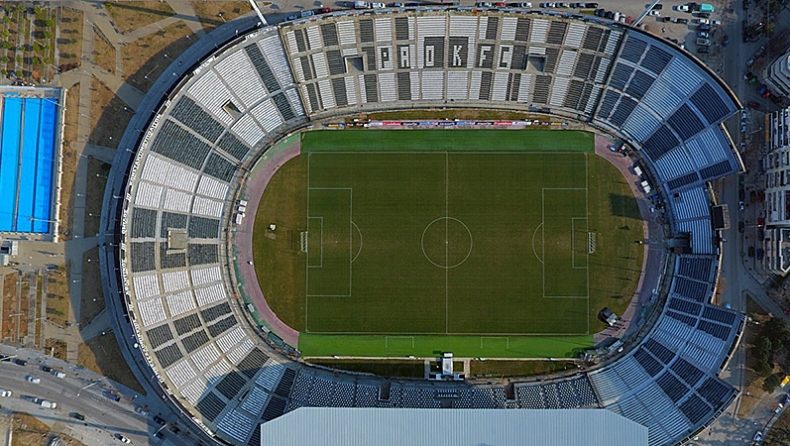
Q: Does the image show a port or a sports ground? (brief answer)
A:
sports ground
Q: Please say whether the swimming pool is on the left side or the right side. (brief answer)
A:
left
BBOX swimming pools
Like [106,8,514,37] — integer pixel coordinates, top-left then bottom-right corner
[0,86,67,242]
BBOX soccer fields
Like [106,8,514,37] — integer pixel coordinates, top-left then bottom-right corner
[299,131,596,357]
